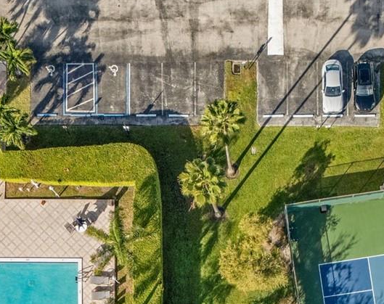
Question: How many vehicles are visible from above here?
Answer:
two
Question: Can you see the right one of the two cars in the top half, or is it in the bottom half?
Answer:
top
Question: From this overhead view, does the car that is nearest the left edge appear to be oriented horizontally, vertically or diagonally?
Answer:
vertically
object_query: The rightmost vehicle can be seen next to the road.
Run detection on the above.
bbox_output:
[353,59,381,112]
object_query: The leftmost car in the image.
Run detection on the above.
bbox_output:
[320,58,348,113]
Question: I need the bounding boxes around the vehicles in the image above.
[353,59,381,112]
[320,58,348,113]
